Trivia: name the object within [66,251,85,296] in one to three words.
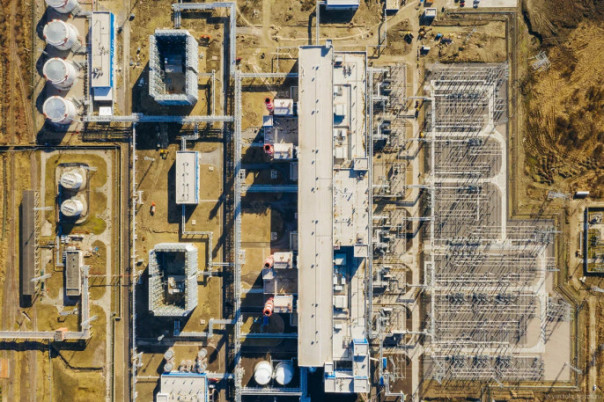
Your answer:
building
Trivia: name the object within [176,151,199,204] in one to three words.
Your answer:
building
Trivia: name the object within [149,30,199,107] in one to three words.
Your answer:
cooling tower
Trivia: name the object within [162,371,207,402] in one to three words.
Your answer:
house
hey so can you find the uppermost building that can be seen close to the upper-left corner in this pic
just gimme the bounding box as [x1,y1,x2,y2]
[92,12,116,91]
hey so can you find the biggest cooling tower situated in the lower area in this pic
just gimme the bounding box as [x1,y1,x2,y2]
[149,243,199,317]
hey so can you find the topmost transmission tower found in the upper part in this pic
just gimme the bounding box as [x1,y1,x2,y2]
[527,53,551,73]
